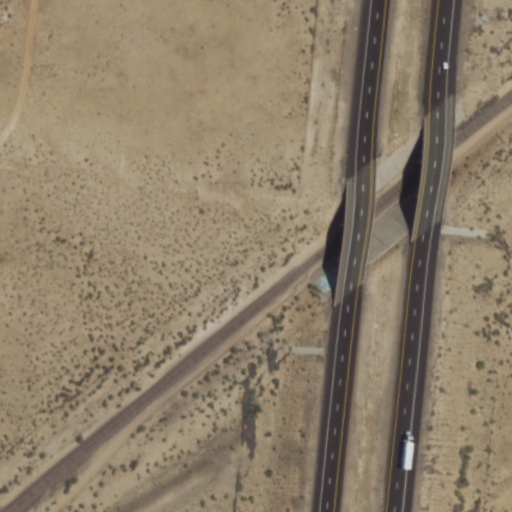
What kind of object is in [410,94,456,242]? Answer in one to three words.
overpass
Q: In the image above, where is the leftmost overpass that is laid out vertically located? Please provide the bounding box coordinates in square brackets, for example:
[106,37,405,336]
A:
[332,158,376,307]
